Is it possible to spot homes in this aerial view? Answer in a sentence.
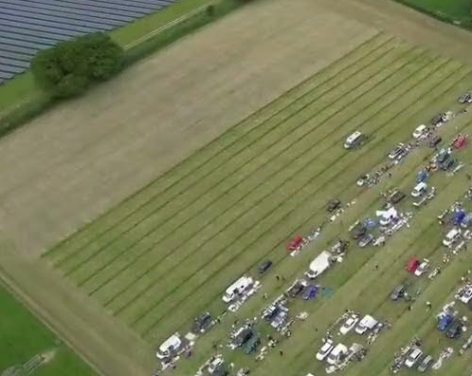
No, there appears to be no home in this shot.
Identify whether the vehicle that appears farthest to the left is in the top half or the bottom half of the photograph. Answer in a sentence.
Seen from above, the vehicle that appears farthest to the left lies in the bottom half of the view.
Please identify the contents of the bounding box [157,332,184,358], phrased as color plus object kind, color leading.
white vehicle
